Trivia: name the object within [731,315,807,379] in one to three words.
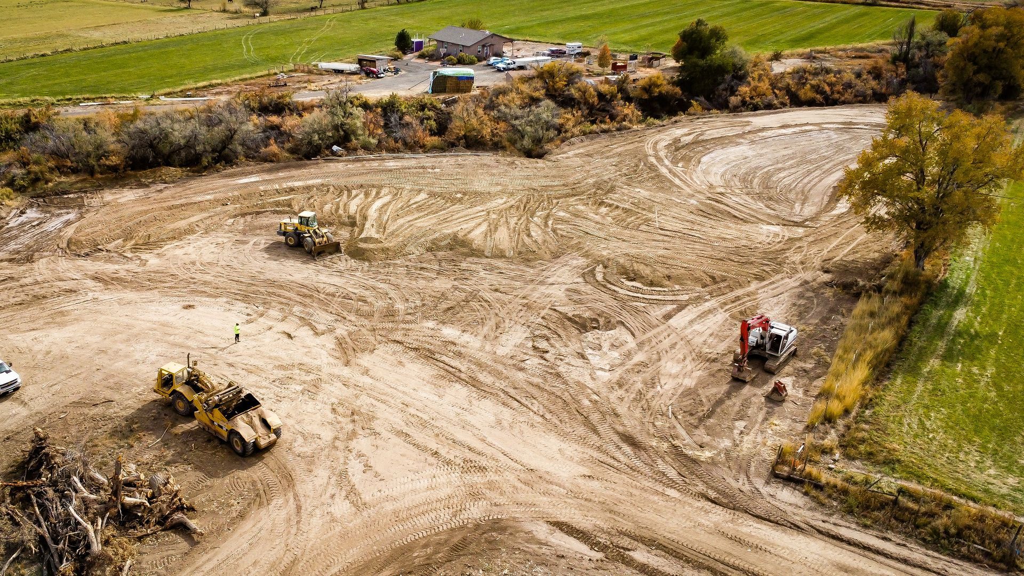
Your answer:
work vehicle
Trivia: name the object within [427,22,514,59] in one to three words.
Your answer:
house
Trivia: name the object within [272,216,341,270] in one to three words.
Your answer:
work vehicle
